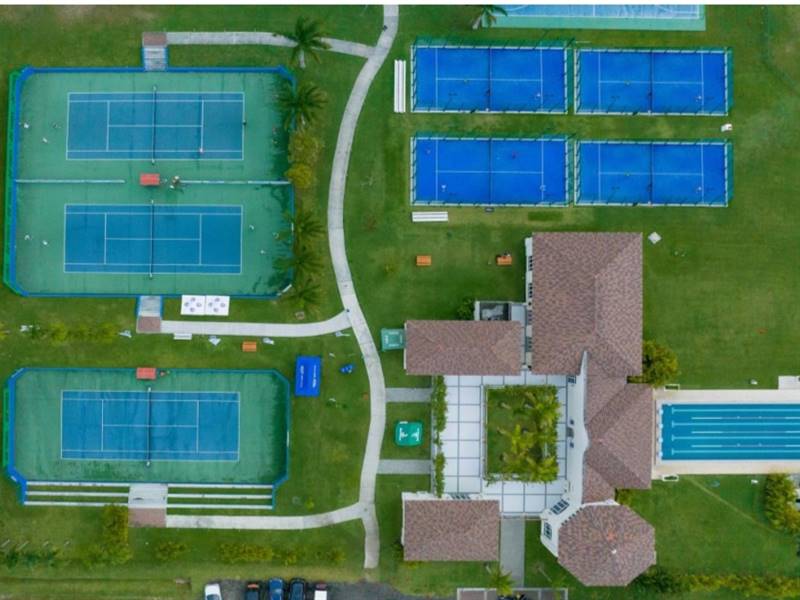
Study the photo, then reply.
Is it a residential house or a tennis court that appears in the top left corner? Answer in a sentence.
The feature located in the top left corner is a tennis court.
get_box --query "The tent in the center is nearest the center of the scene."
[380,329,405,350]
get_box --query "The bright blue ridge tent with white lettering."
[295,355,321,396]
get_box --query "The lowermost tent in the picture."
[394,420,422,446]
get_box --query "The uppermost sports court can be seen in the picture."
[483,0,705,29]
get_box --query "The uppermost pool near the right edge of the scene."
[652,388,800,475]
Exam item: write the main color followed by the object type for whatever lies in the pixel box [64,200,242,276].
blue tennis court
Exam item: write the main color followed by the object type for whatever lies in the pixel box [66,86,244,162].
blue tennis court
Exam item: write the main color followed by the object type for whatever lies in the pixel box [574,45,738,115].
blue sports court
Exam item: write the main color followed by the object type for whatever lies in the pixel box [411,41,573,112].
blue sports court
